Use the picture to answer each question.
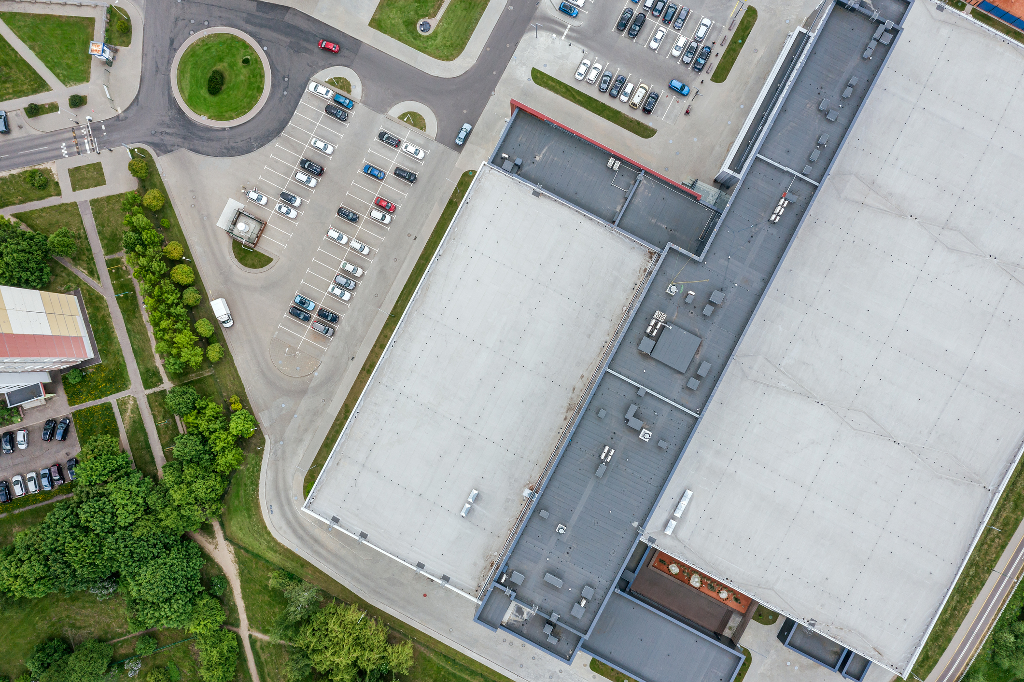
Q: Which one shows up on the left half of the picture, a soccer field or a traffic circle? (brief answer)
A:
traffic circle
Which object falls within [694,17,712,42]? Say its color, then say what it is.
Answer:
white car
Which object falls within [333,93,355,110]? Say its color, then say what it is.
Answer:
blue car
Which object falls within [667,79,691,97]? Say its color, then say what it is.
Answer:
blue car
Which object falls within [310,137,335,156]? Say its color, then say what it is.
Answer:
white car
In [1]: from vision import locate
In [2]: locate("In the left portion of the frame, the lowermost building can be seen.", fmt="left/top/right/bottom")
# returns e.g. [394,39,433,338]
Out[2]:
[0,287,94,410]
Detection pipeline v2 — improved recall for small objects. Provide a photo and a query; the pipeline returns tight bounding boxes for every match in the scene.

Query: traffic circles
[171,27,270,126]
